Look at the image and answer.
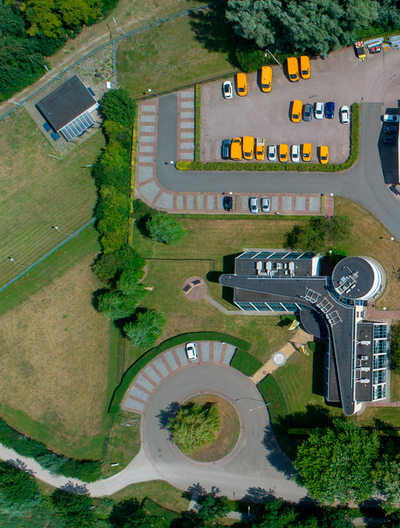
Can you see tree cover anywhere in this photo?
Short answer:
Yes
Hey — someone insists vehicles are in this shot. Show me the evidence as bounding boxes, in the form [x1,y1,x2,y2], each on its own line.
[186,342,197,361]
[381,135,397,144]
[250,196,259,213]
[279,143,289,163]
[291,99,303,124]
[340,106,349,124]
[224,196,233,211]
[303,103,312,122]
[261,197,271,213]
[268,144,277,162]
[382,124,398,133]
[315,101,324,119]
[291,144,300,163]
[261,65,272,93]
[222,139,231,159]
[254,137,266,161]
[236,72,248,97]
[300,54,311,80]
[302,142,312,162]
[243,135,254,160]
[287,56,299,83]
[326,101,335,119]
[223,81,233,100]
[318,145,328,164]
[230,138,242,160]
[381,113,398,123]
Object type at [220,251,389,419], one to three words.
building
